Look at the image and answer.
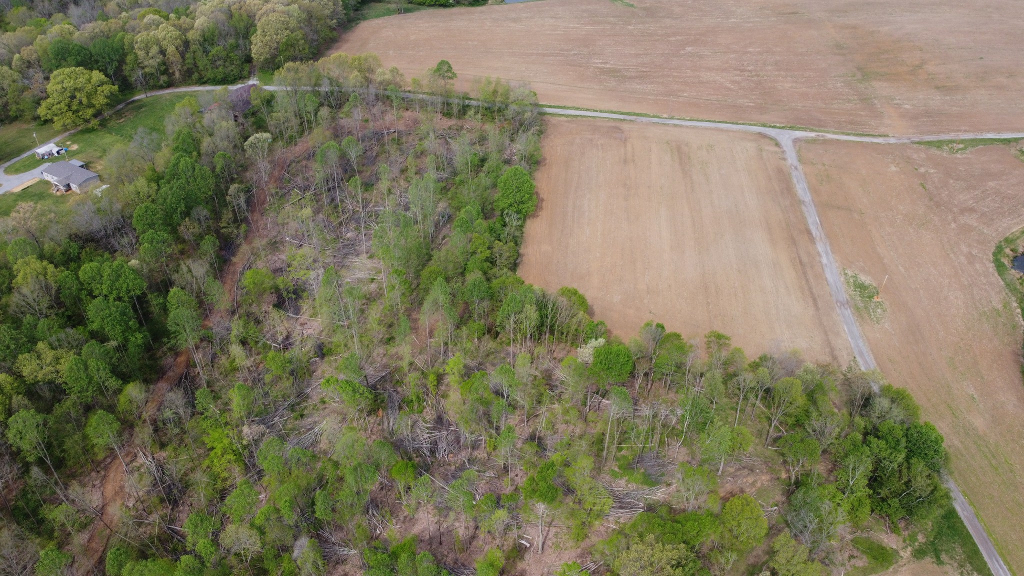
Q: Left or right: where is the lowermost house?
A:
left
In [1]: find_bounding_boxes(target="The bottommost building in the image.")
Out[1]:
[39,158,109,194]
